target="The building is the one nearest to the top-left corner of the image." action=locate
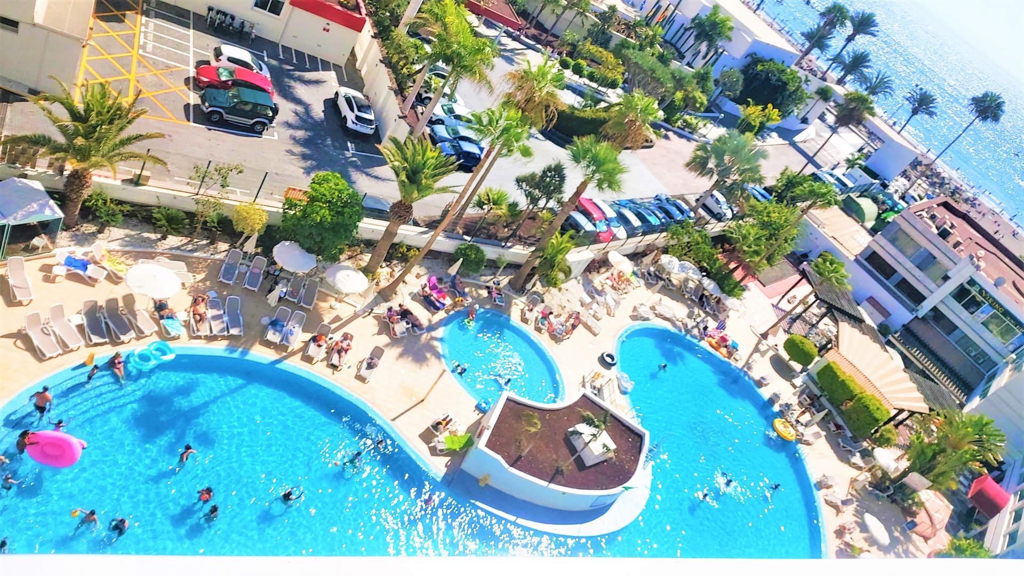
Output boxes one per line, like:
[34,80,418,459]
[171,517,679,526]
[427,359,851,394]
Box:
[0,0,102,99]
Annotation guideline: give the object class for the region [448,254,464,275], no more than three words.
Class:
umbrella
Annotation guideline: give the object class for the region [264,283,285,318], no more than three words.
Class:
umbrella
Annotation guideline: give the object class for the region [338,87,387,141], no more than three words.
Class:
car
